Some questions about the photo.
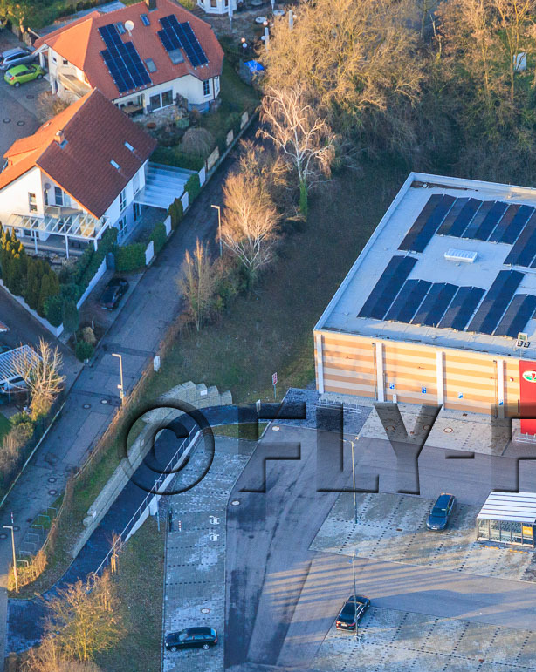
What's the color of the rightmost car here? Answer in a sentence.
The rightmost car is blue.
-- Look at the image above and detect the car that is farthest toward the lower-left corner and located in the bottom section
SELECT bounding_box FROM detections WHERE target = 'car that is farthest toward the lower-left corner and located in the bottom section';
[160,625,222,653]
